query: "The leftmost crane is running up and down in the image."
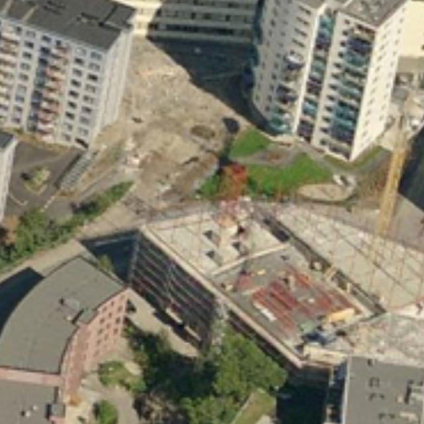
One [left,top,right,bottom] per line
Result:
[219,168,247,235]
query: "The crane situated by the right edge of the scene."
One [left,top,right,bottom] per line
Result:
[376,104,419,241]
